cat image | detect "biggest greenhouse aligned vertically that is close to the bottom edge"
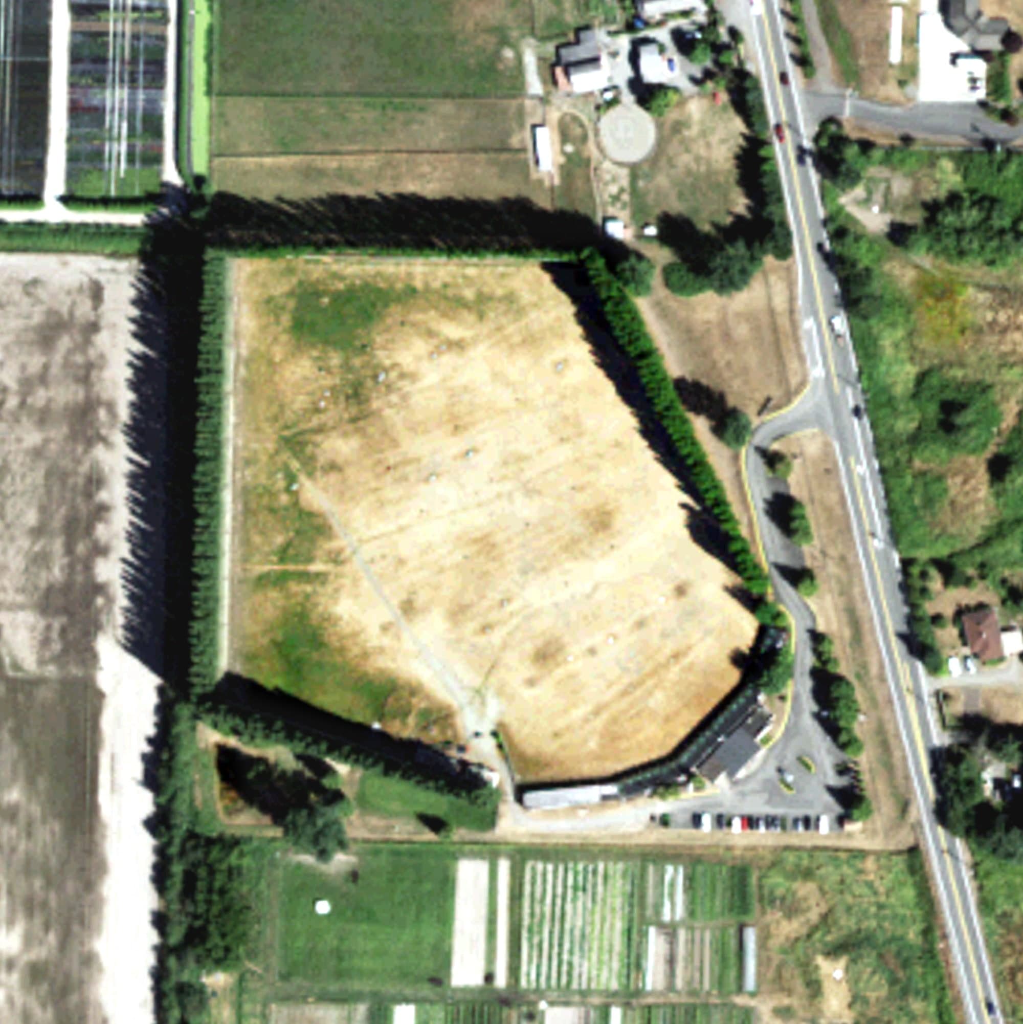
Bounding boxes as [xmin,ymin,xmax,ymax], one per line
[744,927,757,992]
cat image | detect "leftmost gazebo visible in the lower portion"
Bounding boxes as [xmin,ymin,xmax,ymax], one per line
[316,900,330,914]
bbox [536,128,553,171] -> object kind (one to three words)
barn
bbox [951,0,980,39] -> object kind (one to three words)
house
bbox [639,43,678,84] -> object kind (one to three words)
building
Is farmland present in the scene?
Yes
